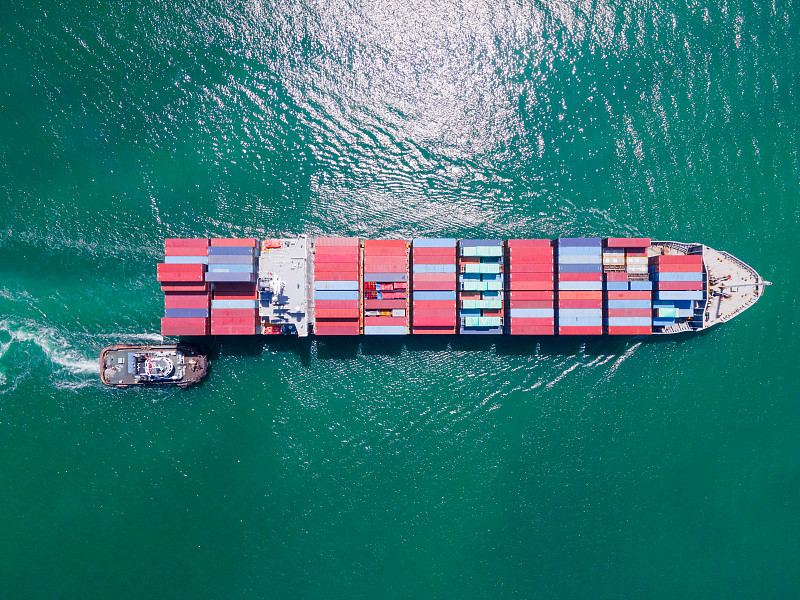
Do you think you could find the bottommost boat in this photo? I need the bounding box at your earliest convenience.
[98,345,210,389]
